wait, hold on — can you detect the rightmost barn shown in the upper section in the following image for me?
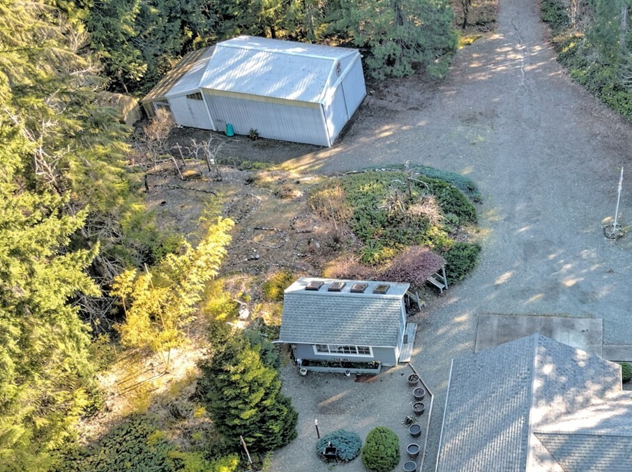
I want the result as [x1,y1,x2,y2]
[153,39,370,146]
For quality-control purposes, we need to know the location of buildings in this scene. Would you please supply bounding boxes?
[153,39,370,146]
[272,277,409,370]
[433,334,632,472]
[92,89,149,136]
